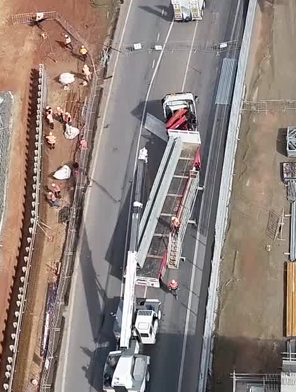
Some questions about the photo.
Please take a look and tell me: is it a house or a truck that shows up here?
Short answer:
truck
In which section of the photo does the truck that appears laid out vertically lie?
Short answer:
center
